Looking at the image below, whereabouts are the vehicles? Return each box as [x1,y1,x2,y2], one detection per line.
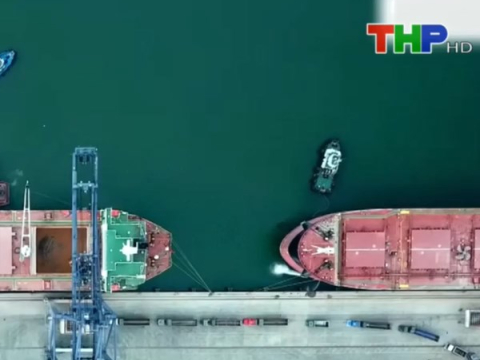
[151,319,196,326]
[343,320,389,330]
[443,345,467,357]
[197,318,240,326]
[460,352,474,360]
[116,318,150,325]
[242,317,288,325]
[394,326,441,341]
[306,320,328,326]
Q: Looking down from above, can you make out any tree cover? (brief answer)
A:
No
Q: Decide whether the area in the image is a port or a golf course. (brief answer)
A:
port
